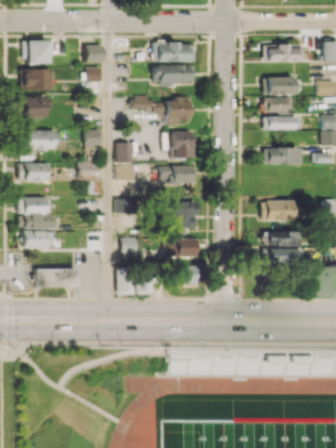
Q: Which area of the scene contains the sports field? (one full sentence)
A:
The sports field is located in the bottom right region of the scene.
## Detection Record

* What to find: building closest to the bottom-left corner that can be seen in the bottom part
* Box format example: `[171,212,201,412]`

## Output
[34,268,80,288]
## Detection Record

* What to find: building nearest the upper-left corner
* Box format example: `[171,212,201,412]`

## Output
[20,40,54,66]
